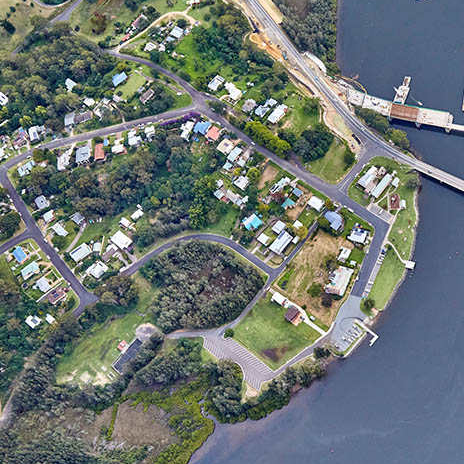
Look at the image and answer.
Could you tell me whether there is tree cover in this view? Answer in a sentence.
Yes, tree cover shows up in the scene.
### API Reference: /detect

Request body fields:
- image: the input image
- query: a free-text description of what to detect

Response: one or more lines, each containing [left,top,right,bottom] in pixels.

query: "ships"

[395,83,410,104]
[403,76,412,88]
